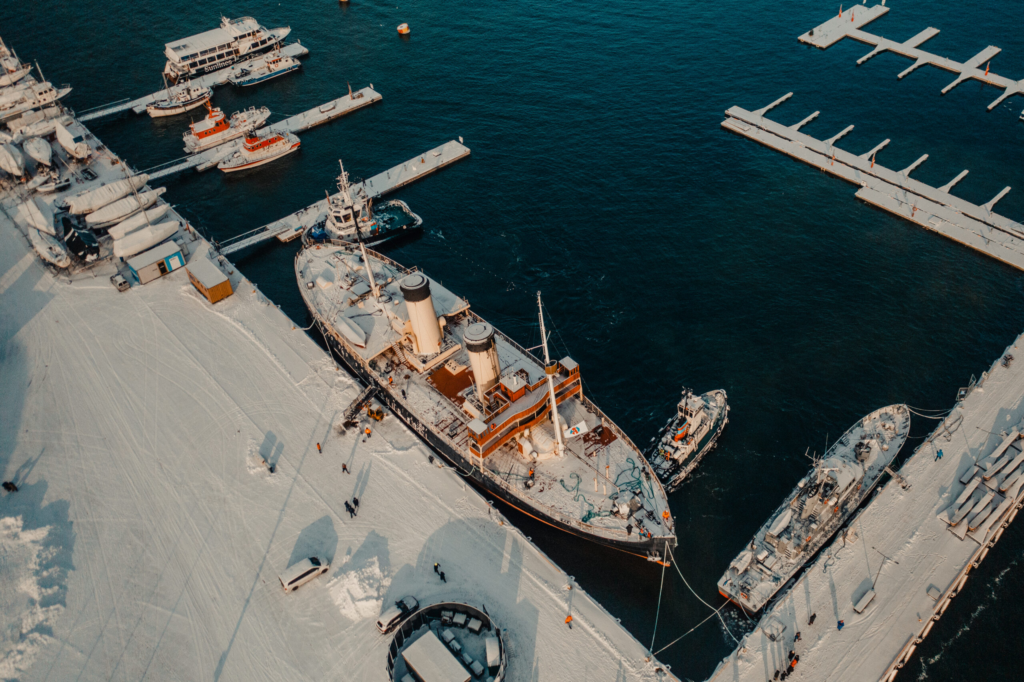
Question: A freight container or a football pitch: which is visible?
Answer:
freight container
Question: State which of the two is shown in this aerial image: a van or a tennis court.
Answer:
van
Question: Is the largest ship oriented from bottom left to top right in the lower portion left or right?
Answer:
right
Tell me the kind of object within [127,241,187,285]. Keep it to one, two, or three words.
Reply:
shed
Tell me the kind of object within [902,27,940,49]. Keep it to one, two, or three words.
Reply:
pier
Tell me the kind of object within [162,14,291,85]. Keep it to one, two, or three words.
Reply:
ship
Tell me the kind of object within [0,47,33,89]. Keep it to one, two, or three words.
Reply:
boat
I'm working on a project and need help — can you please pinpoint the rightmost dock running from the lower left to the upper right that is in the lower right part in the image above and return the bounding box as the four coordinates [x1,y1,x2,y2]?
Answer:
[702,329,1024,682]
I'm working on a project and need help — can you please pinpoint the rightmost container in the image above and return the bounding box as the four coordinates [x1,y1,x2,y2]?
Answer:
[185,258,233,304]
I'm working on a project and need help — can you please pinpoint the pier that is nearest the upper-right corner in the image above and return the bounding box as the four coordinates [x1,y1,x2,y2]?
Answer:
[963,46,1001,69]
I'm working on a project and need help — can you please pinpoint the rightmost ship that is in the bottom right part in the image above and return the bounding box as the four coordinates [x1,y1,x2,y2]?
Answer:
[713,402,914,624]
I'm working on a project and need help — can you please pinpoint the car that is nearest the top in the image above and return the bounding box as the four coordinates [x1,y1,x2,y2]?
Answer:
[109,273,128,290]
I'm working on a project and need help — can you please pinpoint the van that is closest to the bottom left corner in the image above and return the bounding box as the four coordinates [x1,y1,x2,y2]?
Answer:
[279,554,331,592]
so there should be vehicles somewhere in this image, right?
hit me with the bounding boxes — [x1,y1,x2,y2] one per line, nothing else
[365,396,394,420]
[371,595,418,638]
[279,554,331,592]
[109,273,128,290]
